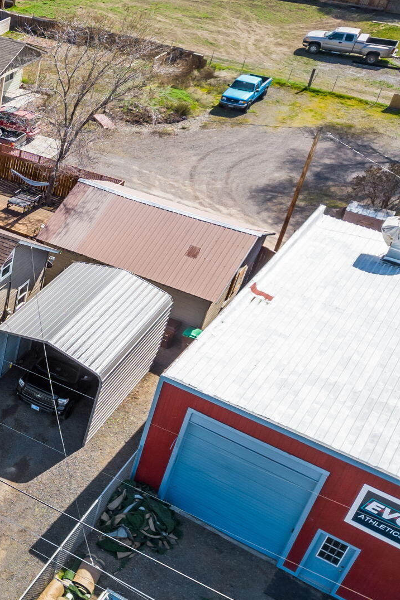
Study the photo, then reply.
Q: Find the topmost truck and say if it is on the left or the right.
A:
right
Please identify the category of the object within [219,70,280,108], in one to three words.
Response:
truck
